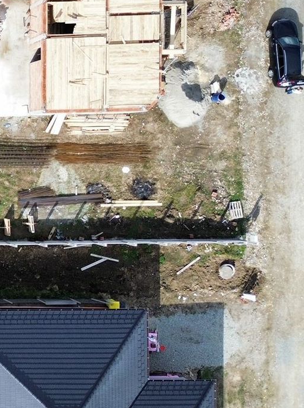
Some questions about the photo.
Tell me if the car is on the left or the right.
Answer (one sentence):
The car sits on the right side.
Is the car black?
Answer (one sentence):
Yes, the car is black.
